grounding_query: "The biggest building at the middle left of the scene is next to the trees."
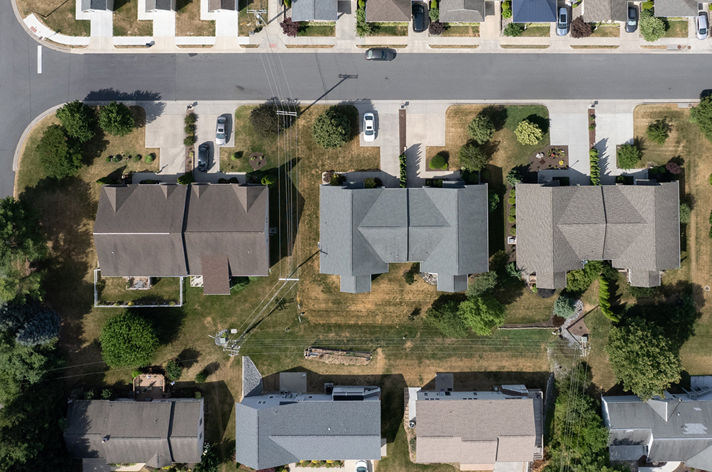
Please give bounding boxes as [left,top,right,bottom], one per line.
[95,184,269,295]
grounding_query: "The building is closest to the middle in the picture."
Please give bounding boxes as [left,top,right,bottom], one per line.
[319,178,488,294]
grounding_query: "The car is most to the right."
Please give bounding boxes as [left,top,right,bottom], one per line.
[694,13,709,39]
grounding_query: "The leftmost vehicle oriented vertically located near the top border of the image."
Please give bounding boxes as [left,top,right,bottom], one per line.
[413,2,426,33]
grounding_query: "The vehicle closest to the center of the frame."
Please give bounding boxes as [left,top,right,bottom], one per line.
[362,111,377,142]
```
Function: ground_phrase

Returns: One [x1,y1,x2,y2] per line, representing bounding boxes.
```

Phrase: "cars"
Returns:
[694,13,709,39]
[354,461,368,472]
[624,5,639,33]
[555,5,568,37]
[413,2,426,33]
[197,142,211,173]
[365,47,395,62]
[362,111,377,142]
[214,114,229,145]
